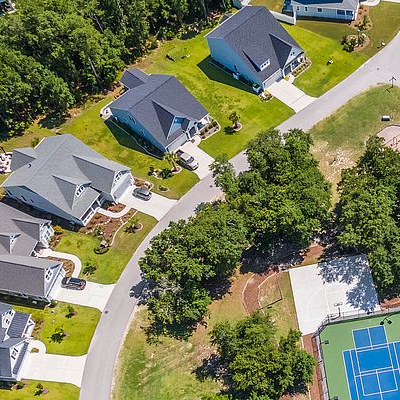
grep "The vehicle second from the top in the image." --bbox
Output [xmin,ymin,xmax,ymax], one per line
[130,185,153,200]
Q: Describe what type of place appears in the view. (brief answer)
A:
residential area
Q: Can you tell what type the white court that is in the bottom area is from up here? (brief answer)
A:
basketball court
